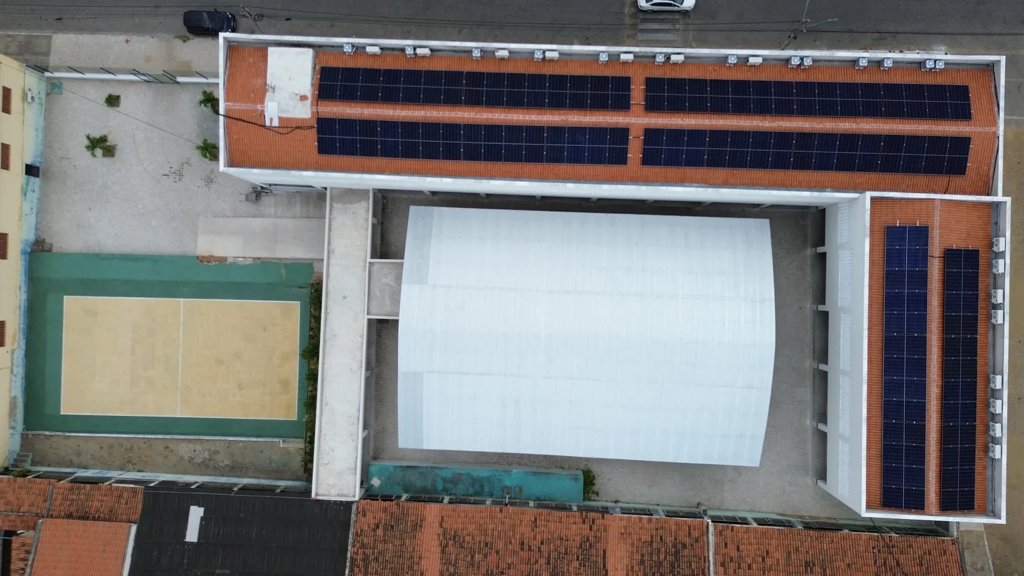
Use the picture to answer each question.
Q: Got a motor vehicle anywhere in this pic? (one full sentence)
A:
Yes, a motor vehicle appears in the view.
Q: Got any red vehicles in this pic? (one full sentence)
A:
No, I find no red vehicle anywhere in the image.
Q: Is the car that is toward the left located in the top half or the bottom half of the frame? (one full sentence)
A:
The car that is toward the left sits in the top half of the picture.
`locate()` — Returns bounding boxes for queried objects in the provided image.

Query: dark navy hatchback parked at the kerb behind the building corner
[180,10,239,39]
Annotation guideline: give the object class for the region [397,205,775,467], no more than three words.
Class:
building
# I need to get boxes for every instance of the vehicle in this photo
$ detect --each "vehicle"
[180,10,239,39]
[636,0,698,14]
